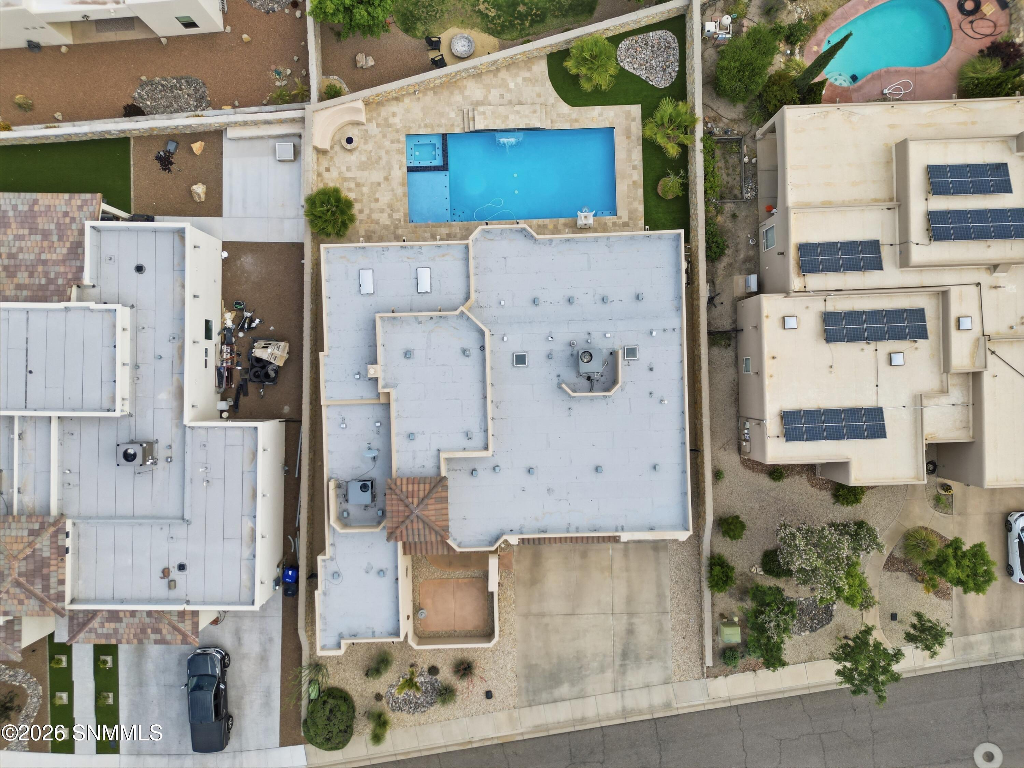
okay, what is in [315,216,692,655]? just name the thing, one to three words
house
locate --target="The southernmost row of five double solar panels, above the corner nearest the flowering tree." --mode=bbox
[782,407,886,442]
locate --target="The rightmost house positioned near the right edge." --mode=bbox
[737,87,1024,488]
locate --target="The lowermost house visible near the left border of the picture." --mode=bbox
[0,192,287,663]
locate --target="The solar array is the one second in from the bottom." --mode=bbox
[823,308,928,343]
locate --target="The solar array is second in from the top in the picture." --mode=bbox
[928,208,1024,242]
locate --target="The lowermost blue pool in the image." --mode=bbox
[405,127,617,223]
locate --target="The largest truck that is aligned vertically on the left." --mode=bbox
[179,641,235,754]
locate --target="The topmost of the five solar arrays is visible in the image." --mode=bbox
[926,163,1012,197]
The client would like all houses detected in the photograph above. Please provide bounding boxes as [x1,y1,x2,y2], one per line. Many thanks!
[737,87,1024,488]
[315,216,692,655]
[0,192,287,663]
[0,0,224,41]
